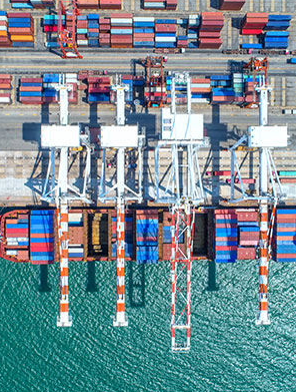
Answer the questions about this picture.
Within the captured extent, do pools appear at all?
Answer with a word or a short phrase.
No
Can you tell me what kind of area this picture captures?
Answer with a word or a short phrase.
port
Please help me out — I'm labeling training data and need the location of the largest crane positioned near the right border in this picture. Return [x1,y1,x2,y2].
[223,73,292,325]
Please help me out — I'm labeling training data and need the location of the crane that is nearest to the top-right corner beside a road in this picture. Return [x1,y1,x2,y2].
[240,54,268,108]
